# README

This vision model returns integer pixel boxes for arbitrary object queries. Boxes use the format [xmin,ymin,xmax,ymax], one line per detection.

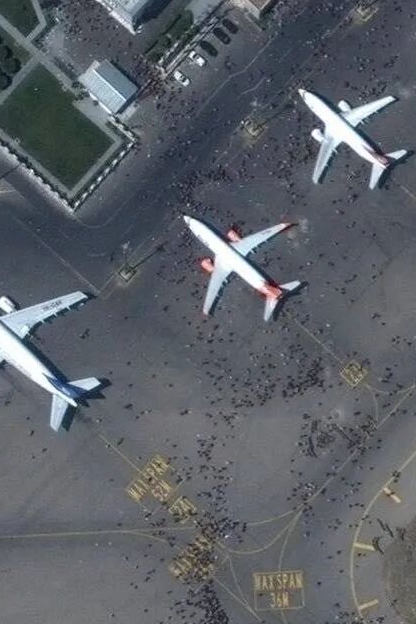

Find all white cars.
[173,71,190,86]
[188,51,206,66]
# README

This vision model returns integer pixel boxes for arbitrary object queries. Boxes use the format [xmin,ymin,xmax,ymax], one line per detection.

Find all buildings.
[90,0,165,39]
[237,0,279,18]
[84,60,139,118]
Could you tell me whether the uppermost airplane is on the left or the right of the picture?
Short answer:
right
